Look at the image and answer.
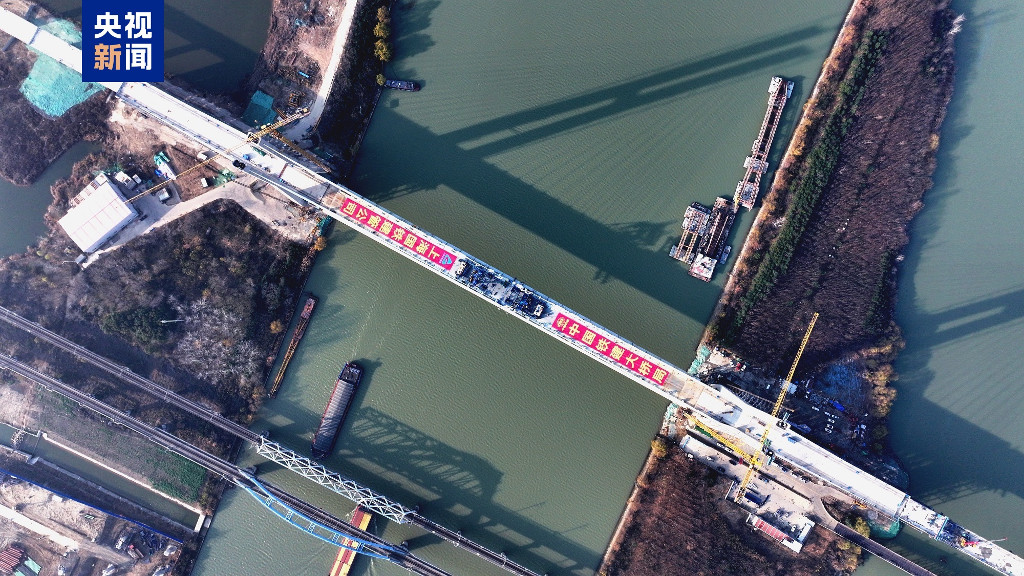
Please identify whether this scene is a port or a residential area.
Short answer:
port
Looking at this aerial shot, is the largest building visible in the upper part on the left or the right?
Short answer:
left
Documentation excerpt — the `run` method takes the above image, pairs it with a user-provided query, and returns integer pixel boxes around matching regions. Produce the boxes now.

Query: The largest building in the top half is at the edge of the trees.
[59,182,138,252]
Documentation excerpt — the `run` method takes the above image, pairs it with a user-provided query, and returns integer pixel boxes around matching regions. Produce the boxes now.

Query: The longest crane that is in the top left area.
[124,110,337,204]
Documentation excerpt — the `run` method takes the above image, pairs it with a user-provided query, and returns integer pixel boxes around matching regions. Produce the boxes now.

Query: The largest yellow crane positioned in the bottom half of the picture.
[680,313,818,503]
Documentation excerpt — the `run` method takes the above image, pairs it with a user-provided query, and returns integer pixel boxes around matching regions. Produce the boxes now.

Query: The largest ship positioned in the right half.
[692,198,735,280]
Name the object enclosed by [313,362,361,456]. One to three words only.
ship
